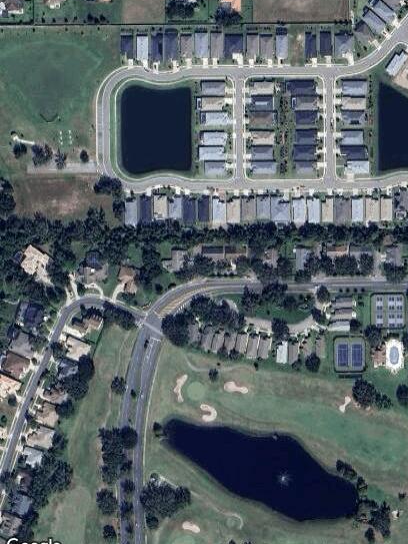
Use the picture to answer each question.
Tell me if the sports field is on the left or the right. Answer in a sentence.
You can find the sports field on the left side of the picture.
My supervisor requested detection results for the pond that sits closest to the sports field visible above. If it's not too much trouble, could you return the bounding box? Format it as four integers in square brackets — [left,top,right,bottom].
[121,87,191,173]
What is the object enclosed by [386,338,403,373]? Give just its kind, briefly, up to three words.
swimming pool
